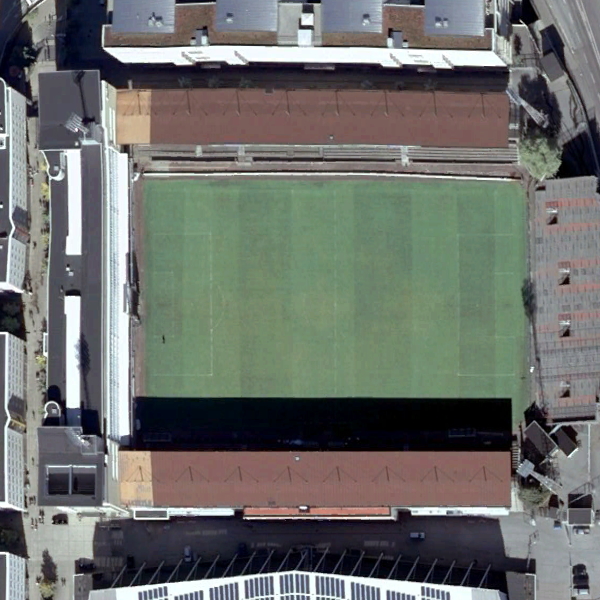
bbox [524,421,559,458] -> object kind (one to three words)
shed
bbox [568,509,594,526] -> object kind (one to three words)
shed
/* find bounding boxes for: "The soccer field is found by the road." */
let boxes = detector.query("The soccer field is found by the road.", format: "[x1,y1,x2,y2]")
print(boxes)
[138,179,527,445]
